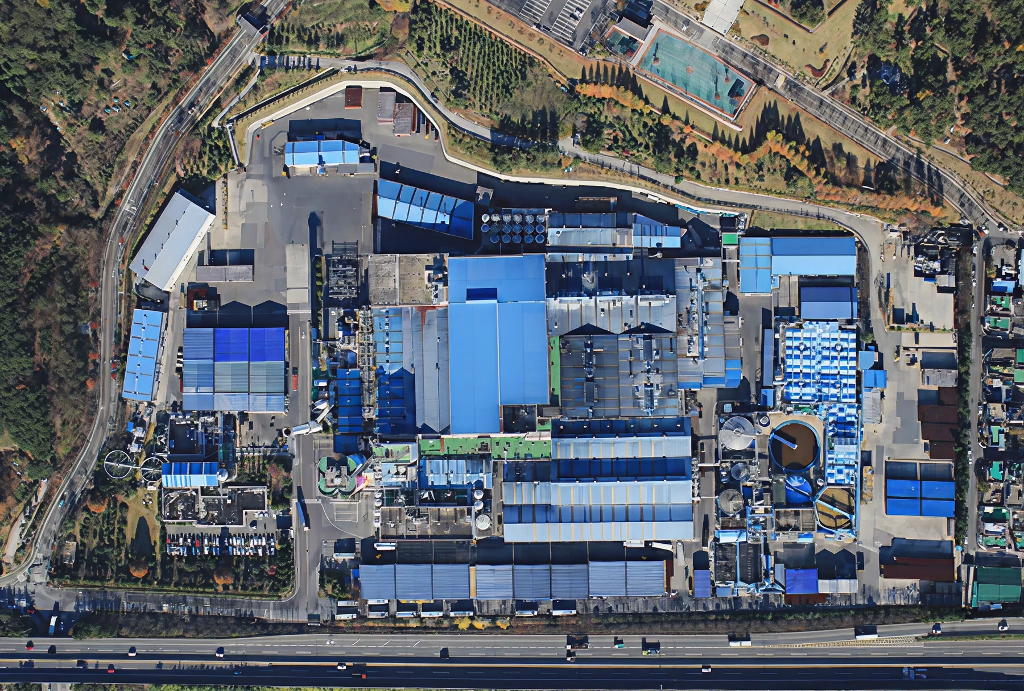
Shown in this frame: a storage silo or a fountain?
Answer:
storage silo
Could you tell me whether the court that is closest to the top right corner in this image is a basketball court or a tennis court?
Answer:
tennis court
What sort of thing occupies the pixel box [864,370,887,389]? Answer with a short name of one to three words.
shed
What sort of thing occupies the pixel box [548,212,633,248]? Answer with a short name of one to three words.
building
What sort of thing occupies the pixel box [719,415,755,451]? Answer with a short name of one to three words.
water tank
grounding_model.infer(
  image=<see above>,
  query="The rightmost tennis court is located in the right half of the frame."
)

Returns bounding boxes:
[637,29,756,118]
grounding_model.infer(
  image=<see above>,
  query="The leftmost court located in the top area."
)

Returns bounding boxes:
[606,27,642,60]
